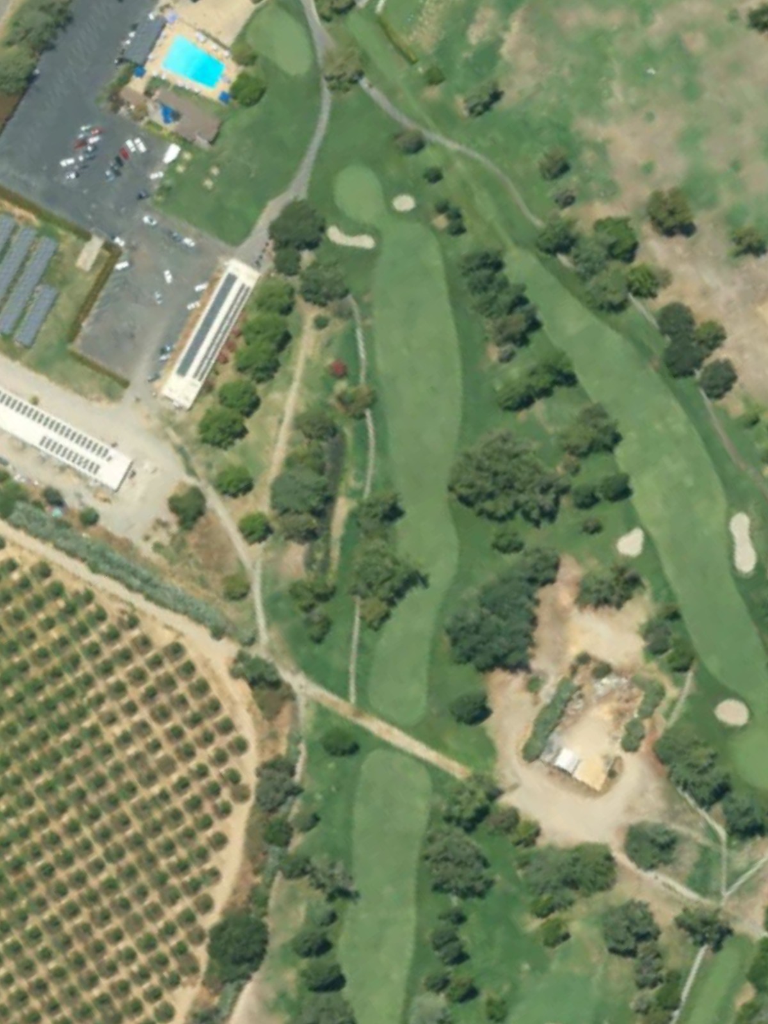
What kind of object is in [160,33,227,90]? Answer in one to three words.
swimming pool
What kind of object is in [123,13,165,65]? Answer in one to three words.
building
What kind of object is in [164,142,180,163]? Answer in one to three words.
vehicle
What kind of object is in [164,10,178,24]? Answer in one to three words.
umbrella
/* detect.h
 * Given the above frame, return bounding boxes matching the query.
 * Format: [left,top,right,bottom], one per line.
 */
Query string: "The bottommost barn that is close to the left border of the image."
[0,388,131,490]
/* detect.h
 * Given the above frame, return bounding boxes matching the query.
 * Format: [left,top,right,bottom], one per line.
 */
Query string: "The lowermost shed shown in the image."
[554,749,580,775]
